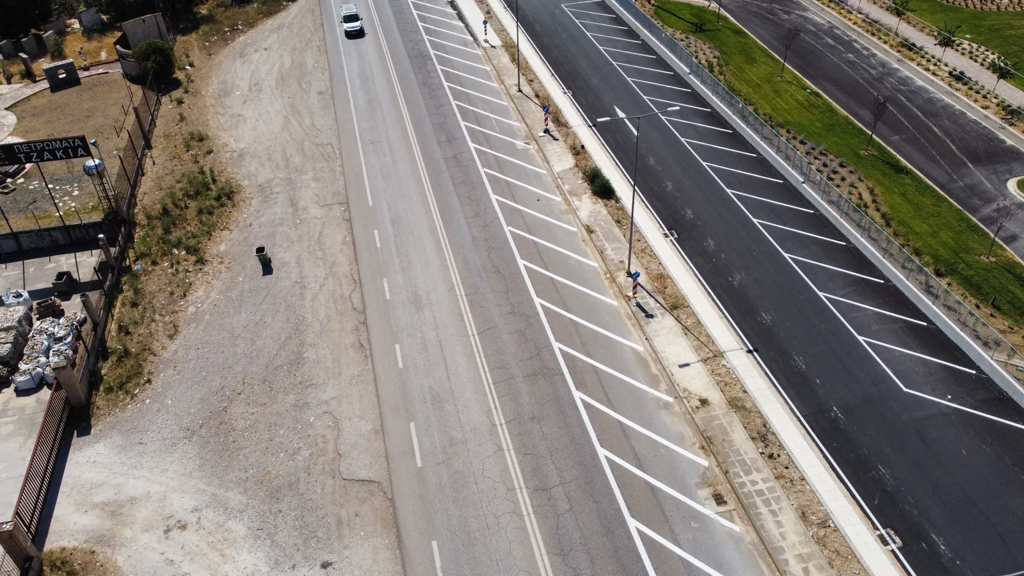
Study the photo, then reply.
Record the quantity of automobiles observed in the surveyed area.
1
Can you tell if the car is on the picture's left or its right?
left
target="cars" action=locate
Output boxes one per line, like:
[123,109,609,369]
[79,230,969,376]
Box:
[340,3,366,40]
